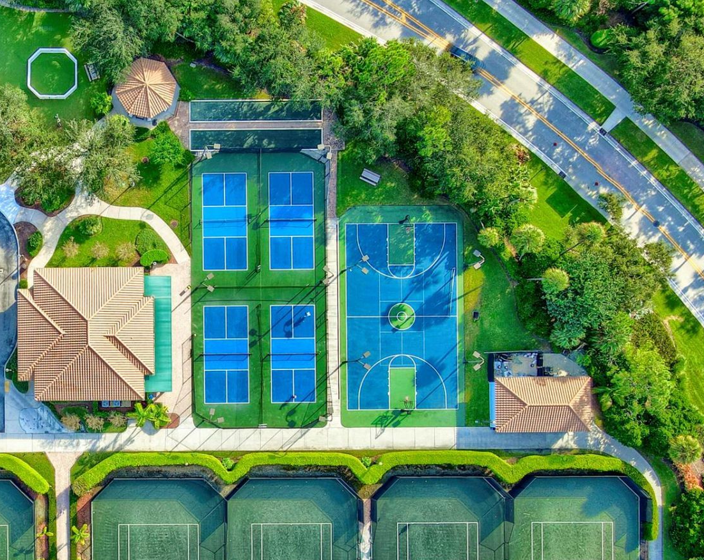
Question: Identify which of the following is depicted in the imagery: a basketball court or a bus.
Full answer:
The one in the frame is a basketball court.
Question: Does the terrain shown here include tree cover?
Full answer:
Yes, there is tree cover in the image.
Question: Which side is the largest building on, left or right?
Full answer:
The largest building sits on the left side.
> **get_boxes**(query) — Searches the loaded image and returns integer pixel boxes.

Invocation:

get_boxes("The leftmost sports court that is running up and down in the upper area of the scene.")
[191,152,260,294]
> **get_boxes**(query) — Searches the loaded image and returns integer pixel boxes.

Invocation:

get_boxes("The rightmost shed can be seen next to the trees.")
[487,377,591,434]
